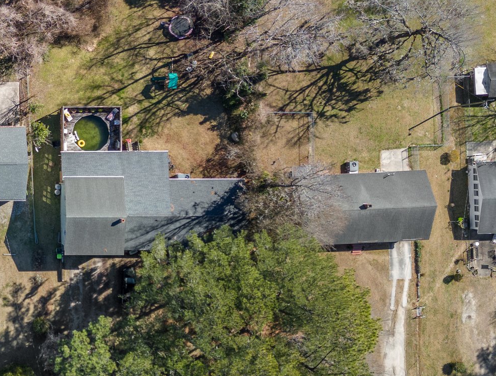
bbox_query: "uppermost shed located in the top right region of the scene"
[465,64,496,97]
